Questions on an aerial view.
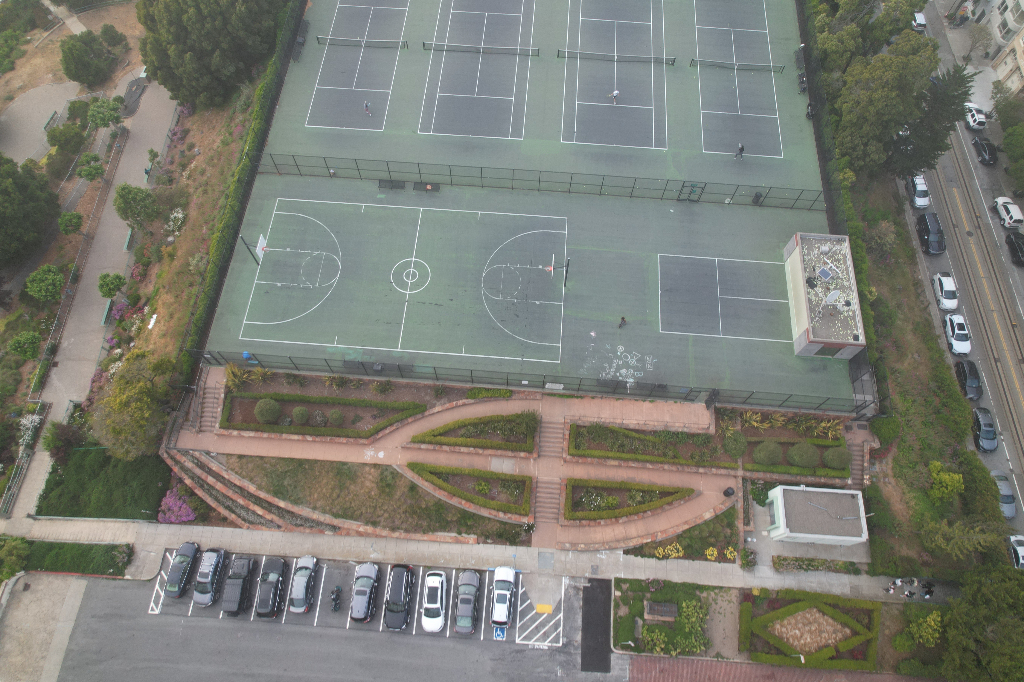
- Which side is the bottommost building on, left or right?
right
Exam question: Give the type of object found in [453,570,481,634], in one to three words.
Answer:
car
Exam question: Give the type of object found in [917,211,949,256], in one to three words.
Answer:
car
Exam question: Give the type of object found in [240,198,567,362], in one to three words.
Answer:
basketball court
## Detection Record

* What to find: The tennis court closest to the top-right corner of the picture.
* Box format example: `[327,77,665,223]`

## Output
[694,0,783,157]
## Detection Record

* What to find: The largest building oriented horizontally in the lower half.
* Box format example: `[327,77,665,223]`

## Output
[760,486,873,545]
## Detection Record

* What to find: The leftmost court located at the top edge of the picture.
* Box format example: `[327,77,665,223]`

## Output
[305,0,410,131]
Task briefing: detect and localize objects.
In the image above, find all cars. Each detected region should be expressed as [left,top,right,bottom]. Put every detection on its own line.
[993,195,1024,231]
[967,407,1002,454]
[1004,230,1024,270]
[453,570,481,634]
[489,565,518,628]
[917,211,949,256]
[420,570,448,632]
[907,172,934,209]
[190,547,229,608]
[216,555,256,617]
[960,101,992,133]
[162,540,202,599]
[932,271,961,312]
[991,471,1021,519]
[942,313,974,358]
[969,135,997,168]
[287,554,320,614]
[254,557,287,617]
[381,564,414,631]
[1004,536,1024,582]
[348,562,379,622]
[952,360,986,401]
